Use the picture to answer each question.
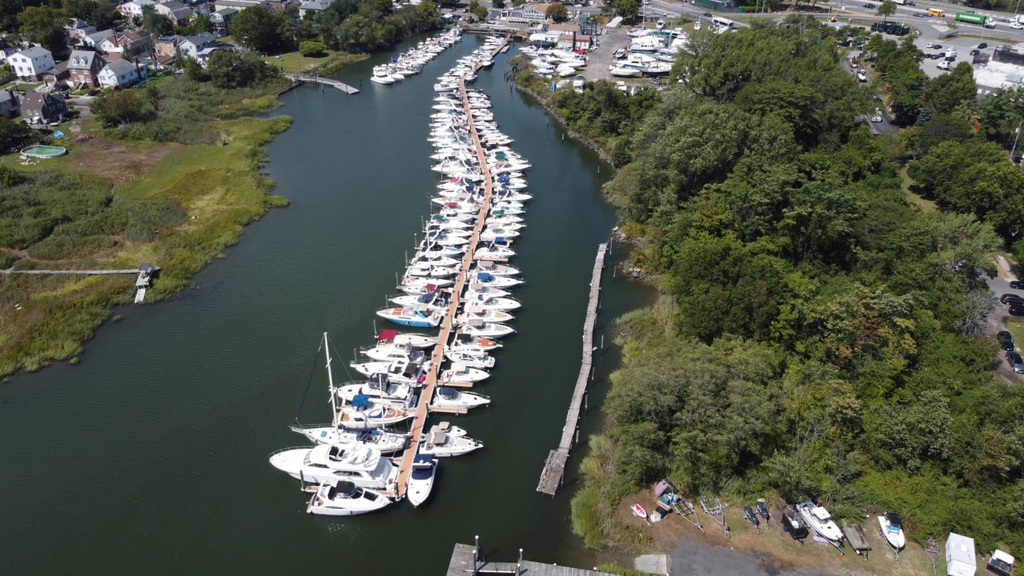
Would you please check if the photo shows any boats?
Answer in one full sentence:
Yes, a boat appears in the view.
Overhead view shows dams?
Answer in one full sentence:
No, this view has no dam in it.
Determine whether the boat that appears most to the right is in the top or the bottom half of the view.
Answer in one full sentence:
Seen from above, the boat that appears most to the right lies in the bottom half of the view.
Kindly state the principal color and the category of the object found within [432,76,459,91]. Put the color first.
white boat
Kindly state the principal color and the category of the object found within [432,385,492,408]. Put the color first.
white boat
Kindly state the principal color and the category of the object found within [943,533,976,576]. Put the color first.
white vehicle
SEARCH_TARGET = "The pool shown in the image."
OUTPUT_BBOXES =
[19,144,64,159]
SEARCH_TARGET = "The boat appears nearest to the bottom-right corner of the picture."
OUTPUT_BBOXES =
[872,508,905,550]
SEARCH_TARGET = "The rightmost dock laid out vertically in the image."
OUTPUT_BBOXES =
[535,243,607,495]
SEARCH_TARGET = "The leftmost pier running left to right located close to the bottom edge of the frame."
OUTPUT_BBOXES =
[449,544,647,576]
